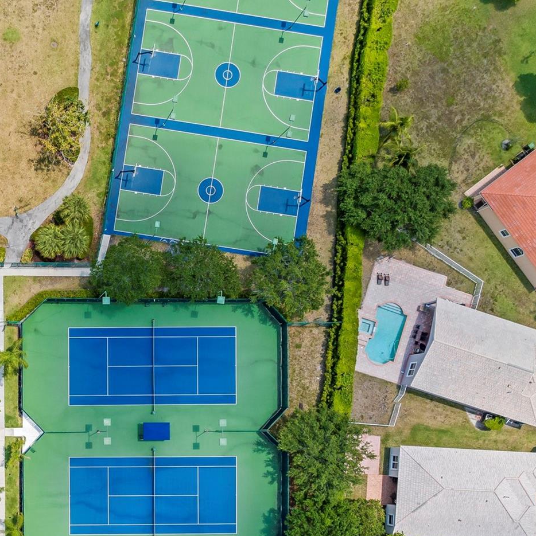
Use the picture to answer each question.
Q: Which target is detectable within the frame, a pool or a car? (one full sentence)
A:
It is a pool that can be seen here.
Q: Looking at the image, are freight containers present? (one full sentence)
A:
No, I find no freight container anywhere in the image.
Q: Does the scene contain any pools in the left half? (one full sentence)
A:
No, there is no pool in the left half.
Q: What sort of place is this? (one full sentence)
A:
What you see here is a sports ground.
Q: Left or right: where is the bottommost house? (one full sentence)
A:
The bottommost house is on the right side of the image.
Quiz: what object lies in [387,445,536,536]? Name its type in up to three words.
house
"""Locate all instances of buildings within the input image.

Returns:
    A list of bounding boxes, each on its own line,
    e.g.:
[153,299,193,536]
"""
[404,297,536,427]
[474,149,536,283]
[387,445,536,536]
